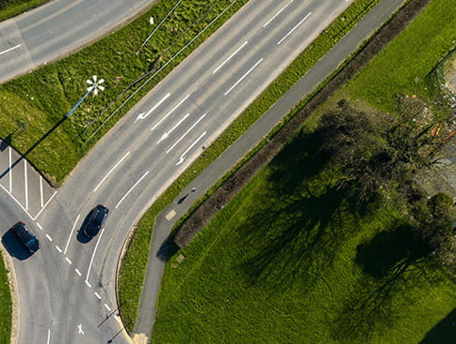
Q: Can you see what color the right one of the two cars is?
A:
black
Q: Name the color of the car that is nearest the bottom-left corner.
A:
black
